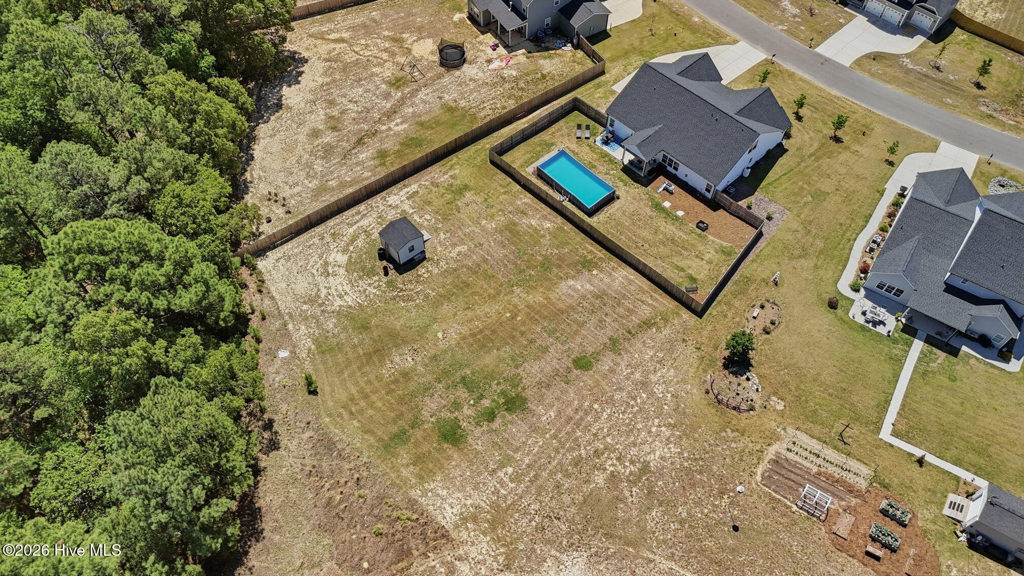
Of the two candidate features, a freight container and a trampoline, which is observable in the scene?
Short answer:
trampoline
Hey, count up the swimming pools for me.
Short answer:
one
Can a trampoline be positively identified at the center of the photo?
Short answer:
No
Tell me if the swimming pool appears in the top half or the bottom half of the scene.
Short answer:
top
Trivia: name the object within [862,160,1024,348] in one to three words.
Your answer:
house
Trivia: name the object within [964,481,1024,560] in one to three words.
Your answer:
shed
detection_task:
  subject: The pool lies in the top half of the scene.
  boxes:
[538,150,616,215]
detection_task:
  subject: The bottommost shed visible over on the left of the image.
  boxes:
[377,216,427,265]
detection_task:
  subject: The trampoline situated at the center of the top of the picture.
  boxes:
[436,41,466,72]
